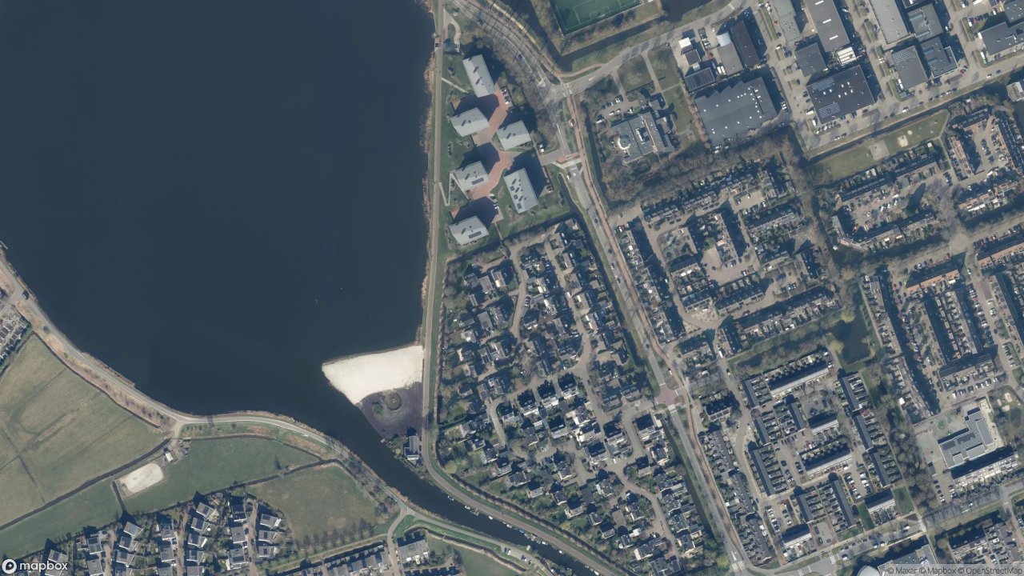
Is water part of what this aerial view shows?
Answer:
Yes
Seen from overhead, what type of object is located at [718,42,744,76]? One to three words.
building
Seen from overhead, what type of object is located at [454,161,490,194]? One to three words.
building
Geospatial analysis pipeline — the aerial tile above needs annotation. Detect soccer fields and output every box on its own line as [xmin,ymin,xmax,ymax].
[550,0,643,36]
